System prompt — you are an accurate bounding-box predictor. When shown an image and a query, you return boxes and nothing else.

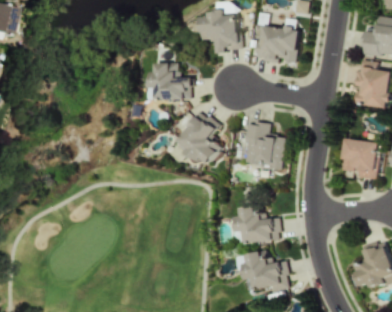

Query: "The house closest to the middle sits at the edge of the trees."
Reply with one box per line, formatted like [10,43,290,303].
[168,108,225,167]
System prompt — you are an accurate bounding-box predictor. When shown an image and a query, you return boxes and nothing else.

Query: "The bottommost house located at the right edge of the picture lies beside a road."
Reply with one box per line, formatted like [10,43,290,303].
[350,240,392,292]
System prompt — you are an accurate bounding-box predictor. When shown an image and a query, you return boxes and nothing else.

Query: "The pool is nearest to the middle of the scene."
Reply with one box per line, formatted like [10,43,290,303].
[152,134,169,152]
